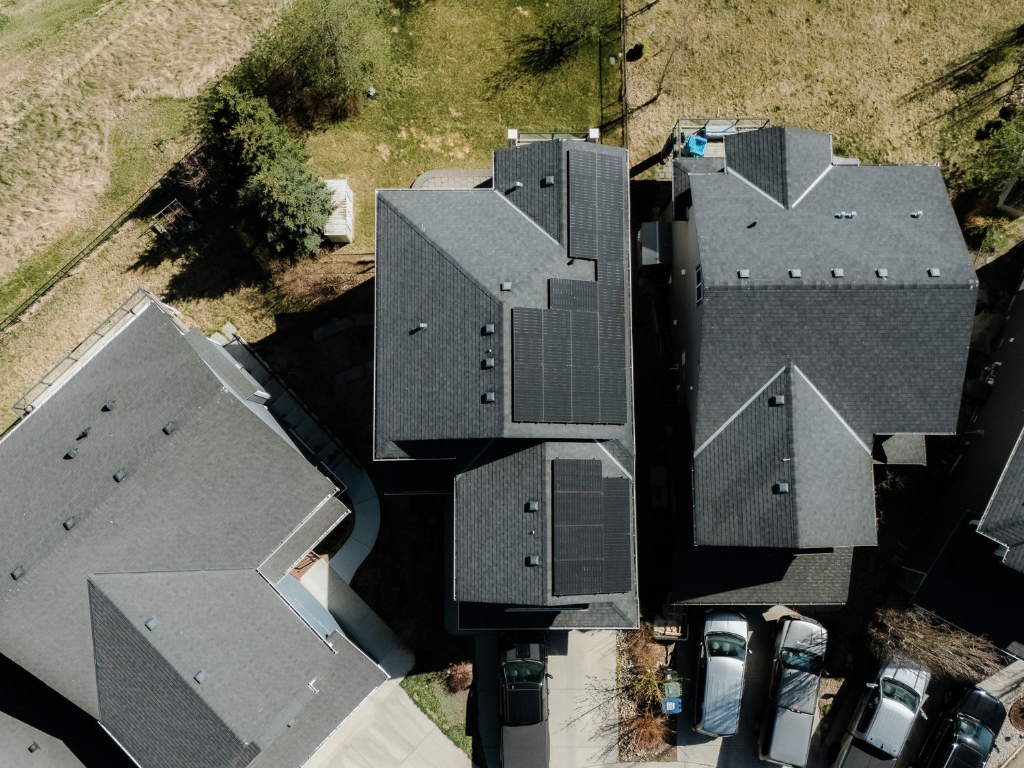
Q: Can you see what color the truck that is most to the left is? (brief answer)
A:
black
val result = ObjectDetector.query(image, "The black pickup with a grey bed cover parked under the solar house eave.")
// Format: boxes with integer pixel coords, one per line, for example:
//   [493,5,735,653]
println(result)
[493,630,556,768]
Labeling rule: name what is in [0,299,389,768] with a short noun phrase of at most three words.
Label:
house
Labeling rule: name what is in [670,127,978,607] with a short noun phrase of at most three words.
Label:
house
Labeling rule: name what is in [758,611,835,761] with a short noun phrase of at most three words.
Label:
truck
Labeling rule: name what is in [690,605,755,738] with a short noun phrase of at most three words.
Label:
car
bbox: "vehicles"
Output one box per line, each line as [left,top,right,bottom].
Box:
[493,630,556,768]
[917,679,1005,768]
[690,605,755,738]
[758,611,835,761]
[828,646,933,768]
